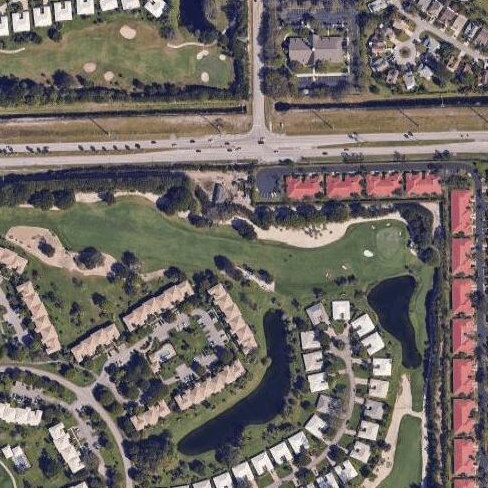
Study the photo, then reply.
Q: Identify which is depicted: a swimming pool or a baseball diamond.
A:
swimming pool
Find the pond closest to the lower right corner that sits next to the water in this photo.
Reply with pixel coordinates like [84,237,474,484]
[369,276,421,368]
